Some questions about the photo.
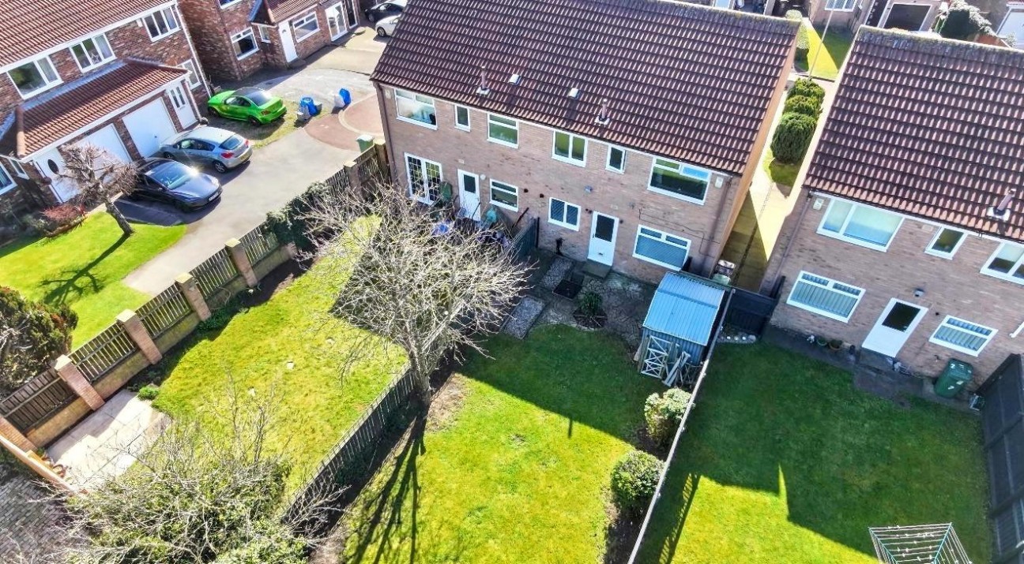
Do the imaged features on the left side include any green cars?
Yes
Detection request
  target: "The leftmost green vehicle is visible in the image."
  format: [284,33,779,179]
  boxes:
[200,83,289,127]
